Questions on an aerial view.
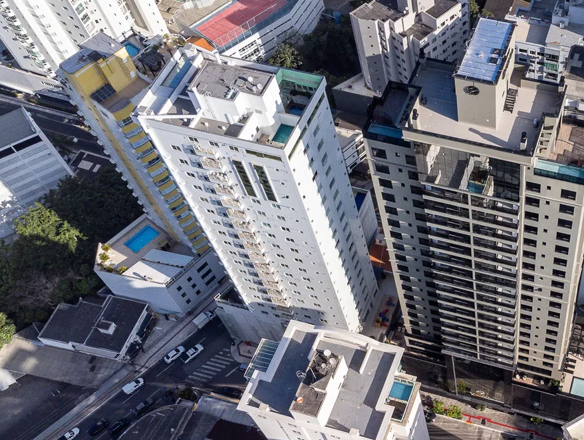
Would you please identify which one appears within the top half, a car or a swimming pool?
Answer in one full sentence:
Visible within the top half is a swimming pool.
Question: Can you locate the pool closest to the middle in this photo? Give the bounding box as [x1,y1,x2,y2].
[270,124,297,145]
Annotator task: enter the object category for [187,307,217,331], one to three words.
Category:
truck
